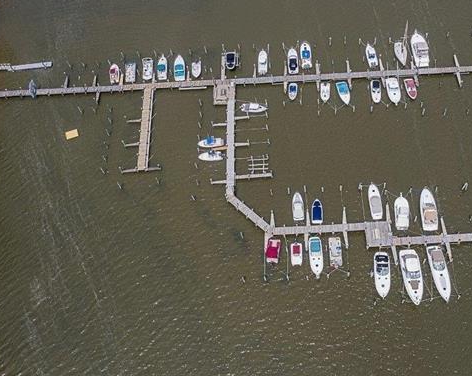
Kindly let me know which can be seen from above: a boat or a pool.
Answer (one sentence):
Of the two, only a boat appears.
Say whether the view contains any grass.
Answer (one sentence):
No, there's no grass in this view.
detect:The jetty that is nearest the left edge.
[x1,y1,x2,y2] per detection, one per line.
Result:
[0,61,53,75]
